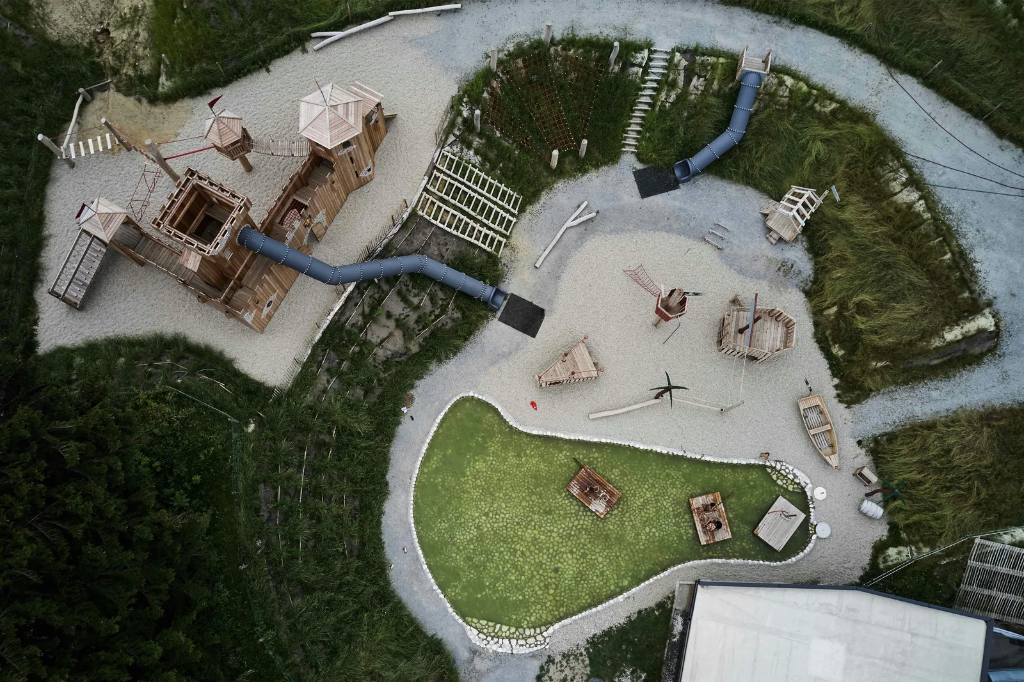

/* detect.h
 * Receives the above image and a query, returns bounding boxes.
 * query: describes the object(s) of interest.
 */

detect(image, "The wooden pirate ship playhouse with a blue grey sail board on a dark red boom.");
[717,293,797,364]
